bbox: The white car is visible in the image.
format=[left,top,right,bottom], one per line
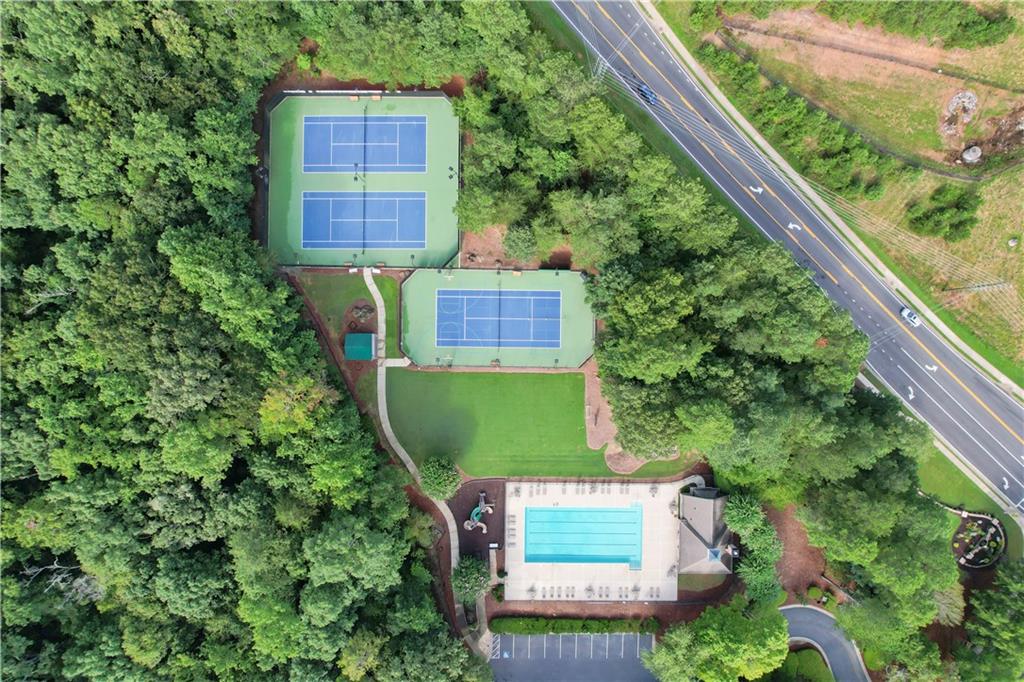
[902,307,923,327]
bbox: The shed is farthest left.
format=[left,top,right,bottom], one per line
[342,334,377,361]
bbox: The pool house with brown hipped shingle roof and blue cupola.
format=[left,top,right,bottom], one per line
[678,481,742,574]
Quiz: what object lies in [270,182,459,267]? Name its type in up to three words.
tennis court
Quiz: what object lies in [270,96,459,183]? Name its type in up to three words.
tennis court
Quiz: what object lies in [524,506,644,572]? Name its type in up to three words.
swimming pool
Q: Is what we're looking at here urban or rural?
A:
rural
